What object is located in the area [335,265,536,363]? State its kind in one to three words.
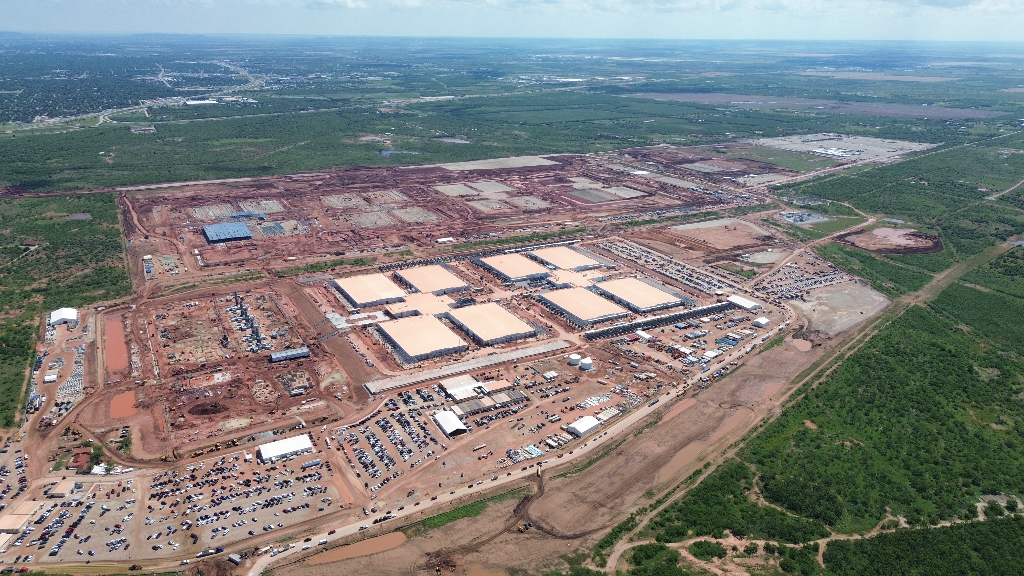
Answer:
building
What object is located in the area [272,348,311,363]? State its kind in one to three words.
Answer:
shed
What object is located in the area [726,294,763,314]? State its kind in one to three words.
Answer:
tent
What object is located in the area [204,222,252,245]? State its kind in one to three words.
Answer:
building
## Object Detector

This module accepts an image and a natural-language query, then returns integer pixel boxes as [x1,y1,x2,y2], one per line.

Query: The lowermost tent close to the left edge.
[50,306,80,326]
